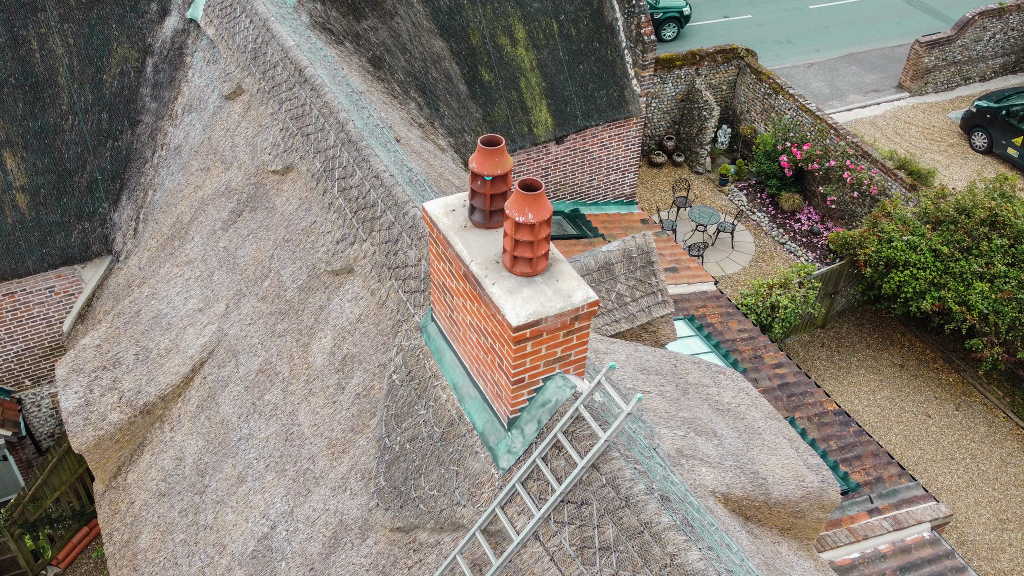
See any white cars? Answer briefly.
No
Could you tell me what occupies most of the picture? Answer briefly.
buildings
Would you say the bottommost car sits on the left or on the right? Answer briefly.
right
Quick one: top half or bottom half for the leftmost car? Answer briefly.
top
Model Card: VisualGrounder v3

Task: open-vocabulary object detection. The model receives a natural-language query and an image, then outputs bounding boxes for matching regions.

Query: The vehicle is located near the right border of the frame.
[962,97,1024,163]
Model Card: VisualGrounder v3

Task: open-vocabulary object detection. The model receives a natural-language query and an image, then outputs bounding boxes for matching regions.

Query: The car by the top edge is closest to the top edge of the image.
[641,0,689,44]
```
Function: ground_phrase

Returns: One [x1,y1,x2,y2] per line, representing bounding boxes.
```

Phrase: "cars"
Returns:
[962,97,1024,163]
[641,0,689,44]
